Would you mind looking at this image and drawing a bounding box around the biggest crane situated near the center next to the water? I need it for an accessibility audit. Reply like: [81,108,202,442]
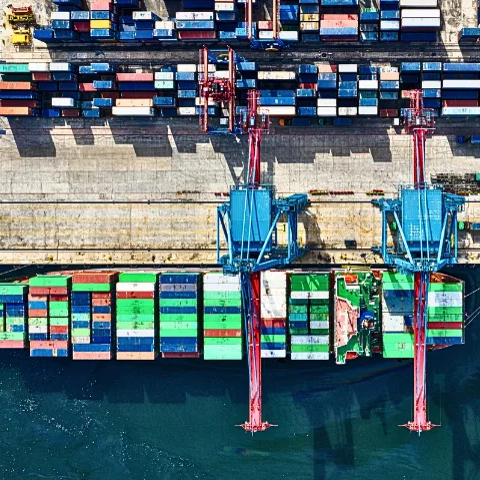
[216,89,316,434]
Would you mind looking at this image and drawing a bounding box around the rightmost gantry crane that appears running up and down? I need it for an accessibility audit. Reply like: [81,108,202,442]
[367,89,467,434]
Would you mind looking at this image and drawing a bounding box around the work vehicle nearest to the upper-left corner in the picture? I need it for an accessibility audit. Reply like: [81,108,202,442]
[0,2,27,28]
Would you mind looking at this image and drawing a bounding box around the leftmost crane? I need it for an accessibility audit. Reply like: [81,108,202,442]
[201,48,252,135]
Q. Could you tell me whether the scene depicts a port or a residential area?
port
